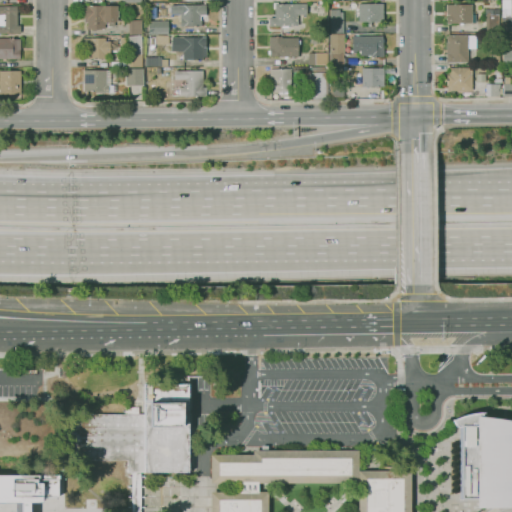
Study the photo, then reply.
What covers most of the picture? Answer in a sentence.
Most of the picture is covered by paved ground.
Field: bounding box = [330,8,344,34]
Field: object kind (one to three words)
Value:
house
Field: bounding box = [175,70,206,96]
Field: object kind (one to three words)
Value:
house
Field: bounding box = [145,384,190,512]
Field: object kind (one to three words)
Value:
building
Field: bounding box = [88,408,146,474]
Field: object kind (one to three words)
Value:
building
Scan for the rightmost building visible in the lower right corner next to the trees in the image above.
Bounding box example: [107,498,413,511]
[456,412,512,508]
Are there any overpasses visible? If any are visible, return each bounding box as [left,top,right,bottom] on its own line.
[395,125,444,300]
